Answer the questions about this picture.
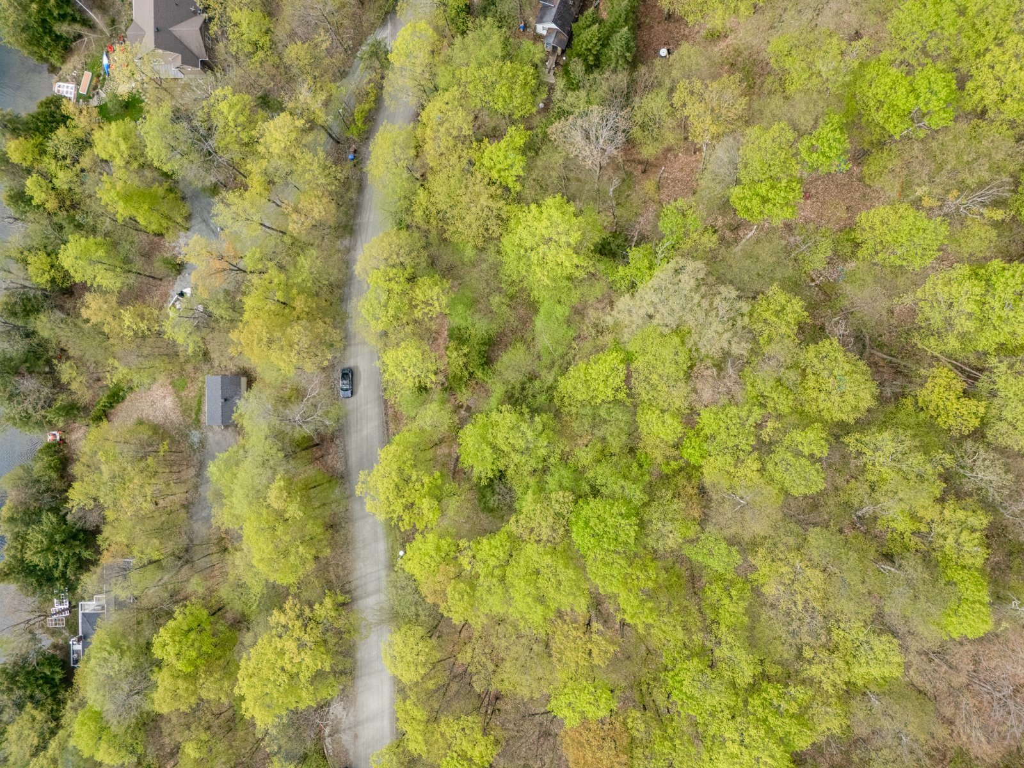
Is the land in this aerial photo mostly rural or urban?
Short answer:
rural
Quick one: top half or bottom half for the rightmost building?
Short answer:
top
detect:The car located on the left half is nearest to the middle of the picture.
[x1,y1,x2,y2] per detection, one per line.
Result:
[337,368,352,398]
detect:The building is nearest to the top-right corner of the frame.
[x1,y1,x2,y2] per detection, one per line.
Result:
[537,0,586,59]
